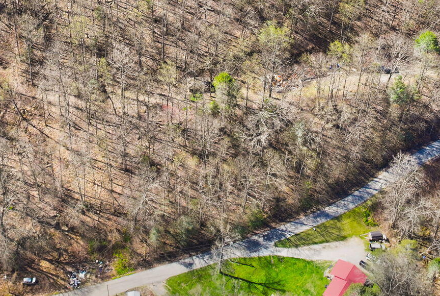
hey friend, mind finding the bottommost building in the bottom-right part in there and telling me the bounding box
[317,264,369,296]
